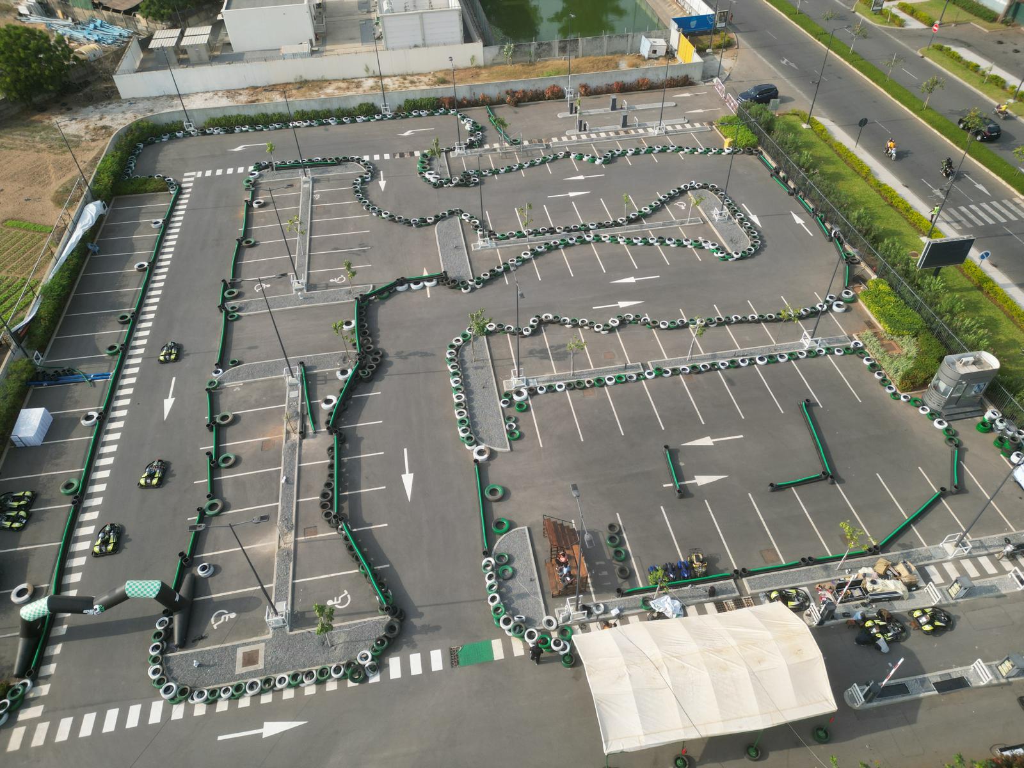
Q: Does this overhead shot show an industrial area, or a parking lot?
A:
parking lot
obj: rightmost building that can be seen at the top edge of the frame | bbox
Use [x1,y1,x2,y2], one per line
[638,35,670,62]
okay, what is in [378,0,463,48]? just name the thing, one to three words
building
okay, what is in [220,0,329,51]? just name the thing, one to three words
building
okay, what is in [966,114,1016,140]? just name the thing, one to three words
car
